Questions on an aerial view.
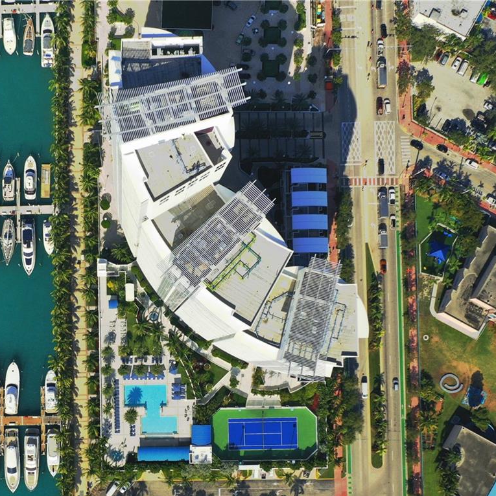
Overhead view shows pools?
Yes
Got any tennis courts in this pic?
Yes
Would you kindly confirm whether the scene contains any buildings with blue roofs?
Yes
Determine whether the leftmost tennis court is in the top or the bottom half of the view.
bottom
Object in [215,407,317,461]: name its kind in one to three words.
tennis court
